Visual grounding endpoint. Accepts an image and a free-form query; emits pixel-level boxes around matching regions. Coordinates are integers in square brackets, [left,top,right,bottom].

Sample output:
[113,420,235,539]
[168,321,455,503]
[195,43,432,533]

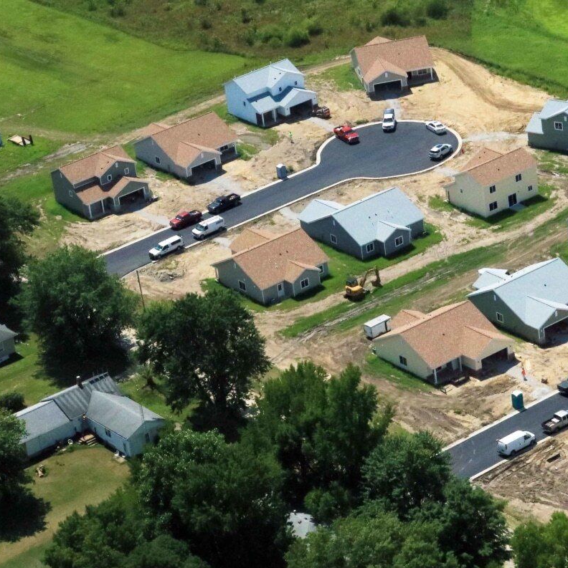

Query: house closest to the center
[210,228,330,303]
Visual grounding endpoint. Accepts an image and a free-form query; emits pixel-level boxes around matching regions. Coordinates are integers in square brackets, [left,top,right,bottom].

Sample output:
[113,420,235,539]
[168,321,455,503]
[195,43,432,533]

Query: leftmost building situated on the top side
[49,144,150,217]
